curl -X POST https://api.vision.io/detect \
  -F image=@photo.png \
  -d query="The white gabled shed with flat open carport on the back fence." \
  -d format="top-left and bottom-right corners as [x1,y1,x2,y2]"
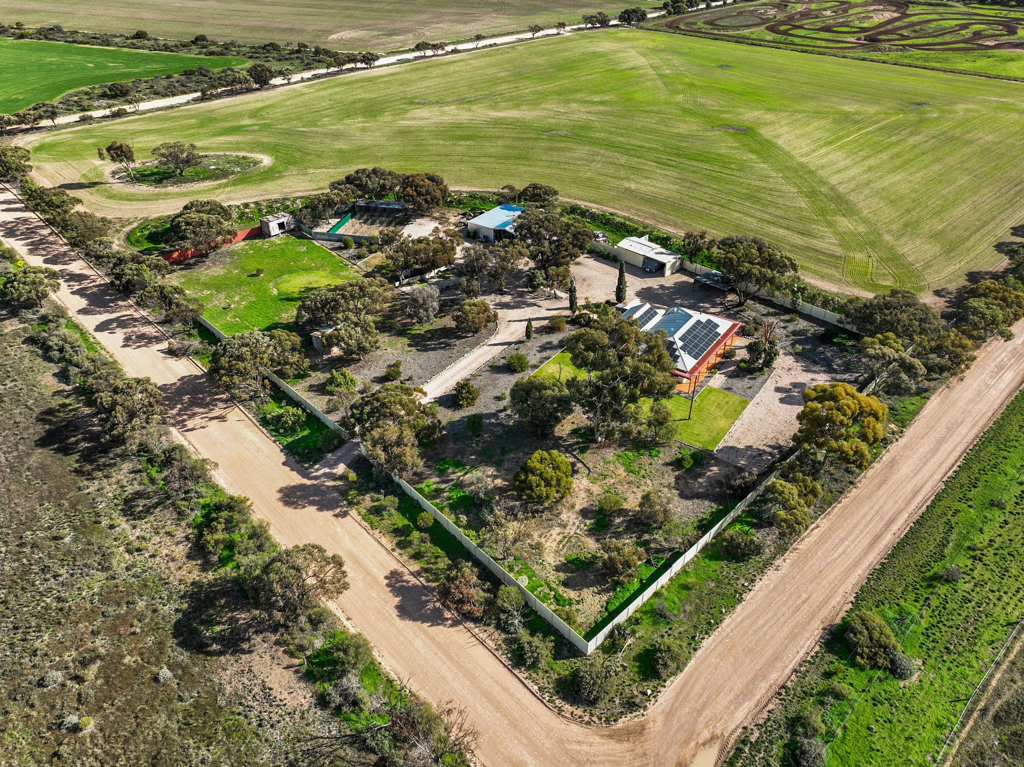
[616,238,680,278]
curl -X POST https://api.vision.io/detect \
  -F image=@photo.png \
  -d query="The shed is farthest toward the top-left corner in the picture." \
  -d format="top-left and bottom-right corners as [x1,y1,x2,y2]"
[257,212,293,235]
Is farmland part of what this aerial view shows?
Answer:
Yes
